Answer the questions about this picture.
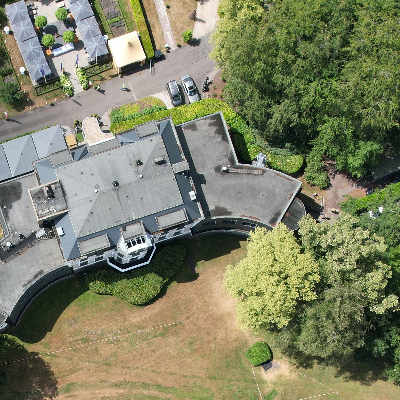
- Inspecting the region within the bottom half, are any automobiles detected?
No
